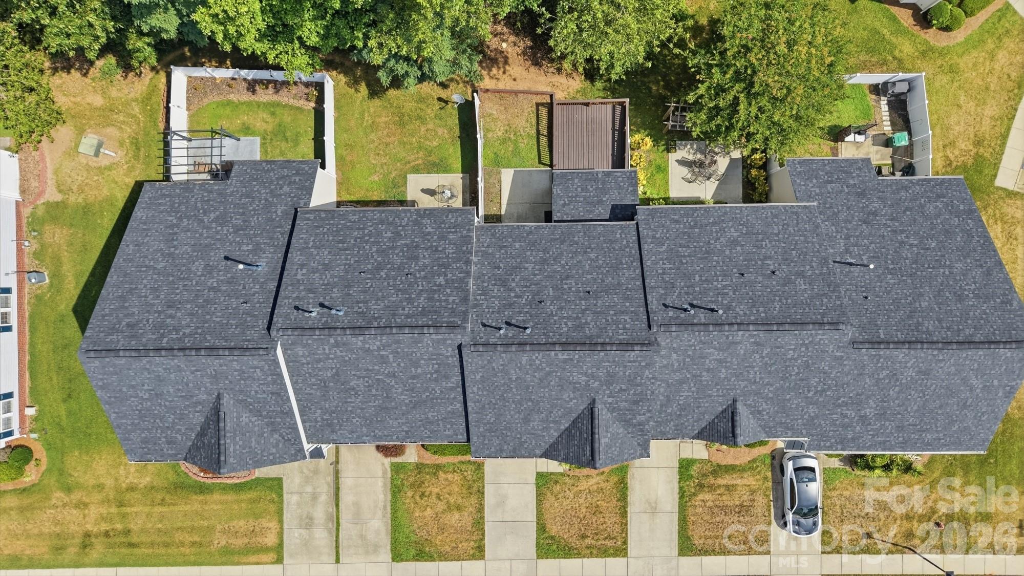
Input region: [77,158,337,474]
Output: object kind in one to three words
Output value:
house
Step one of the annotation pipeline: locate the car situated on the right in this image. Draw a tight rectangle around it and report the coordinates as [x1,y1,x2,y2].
[782,450,827,536]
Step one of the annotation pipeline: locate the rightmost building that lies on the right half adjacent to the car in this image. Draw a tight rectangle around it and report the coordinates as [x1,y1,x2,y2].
[767,156,1024,455]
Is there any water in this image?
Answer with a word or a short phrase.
No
